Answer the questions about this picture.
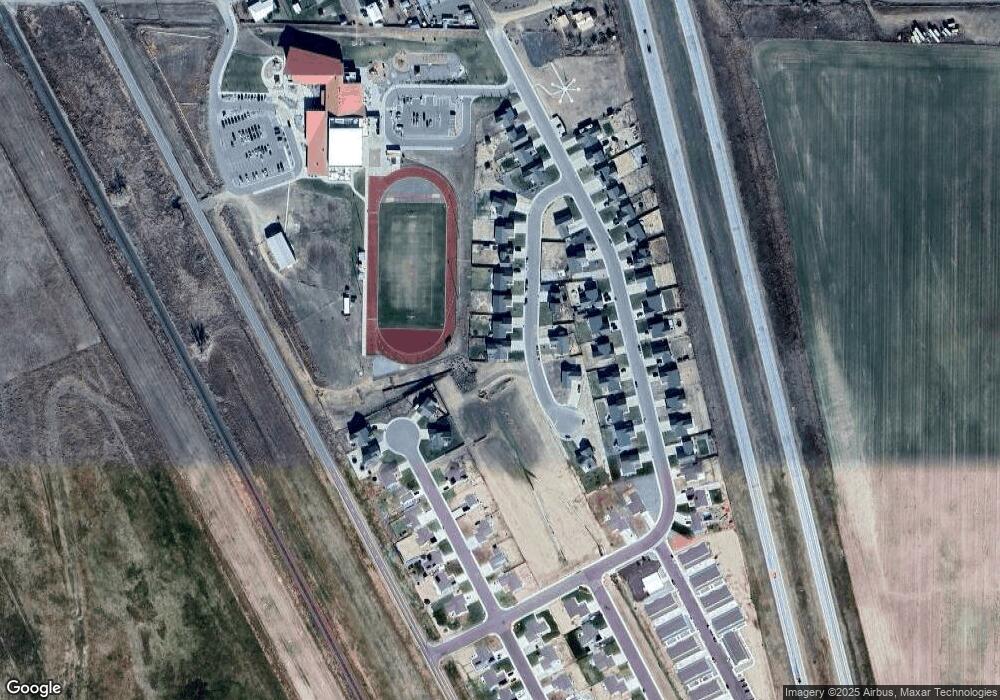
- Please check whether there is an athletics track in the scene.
Yes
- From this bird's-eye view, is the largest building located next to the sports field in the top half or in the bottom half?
top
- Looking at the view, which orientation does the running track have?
vertically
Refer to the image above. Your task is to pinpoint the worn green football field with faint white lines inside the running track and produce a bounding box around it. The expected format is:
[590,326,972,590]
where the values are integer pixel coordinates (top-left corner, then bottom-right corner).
[379,203,445,327]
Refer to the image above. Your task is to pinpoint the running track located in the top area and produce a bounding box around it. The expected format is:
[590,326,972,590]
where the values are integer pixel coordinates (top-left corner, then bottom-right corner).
[367,166,457,363]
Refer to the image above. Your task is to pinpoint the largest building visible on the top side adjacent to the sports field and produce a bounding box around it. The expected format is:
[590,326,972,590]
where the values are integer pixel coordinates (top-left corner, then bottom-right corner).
[283,46,367,175]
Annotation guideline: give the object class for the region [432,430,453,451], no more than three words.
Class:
house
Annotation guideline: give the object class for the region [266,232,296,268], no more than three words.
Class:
barn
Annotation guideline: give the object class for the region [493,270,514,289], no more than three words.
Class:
house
